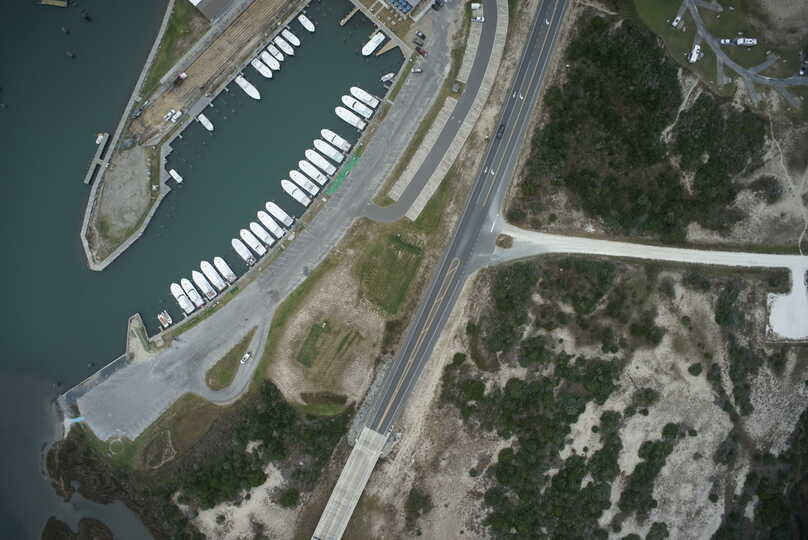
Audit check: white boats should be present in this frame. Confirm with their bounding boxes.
[282,28,300,46]
[297,13,315,31]
[235,74,260,99]
[259,212,283,239]
[241,230,266,257]
[299,159,327,187]
[274,35,294,54]
[315,138,344,163]
[171,283,195,313]
[168,168,184,184]
[282,180,311,208]
[233,239,255,265]
[215,257,237,283]
[363,32,386,54]
[290,171,318,197]
[342,95,372,120]
[267,44,283,61]
[351,86,379,110]
[267,202,292,228]
[181,279,204,307]
[260,50,279,69]
[321,128,352,152]
[251,223,274,247]
[197,114,214,131]
[202,261,226,291]
[251,58,271,78]
[306,149,335,177]
[193,271,215,300]
[335,106,366,132]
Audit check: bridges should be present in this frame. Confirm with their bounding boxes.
[311,421,390,540]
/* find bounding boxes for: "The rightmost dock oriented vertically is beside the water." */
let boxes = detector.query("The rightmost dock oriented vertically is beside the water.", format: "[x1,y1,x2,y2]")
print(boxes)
[160,129,184,201]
